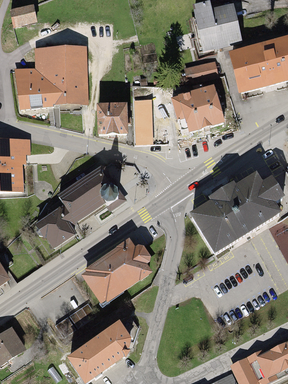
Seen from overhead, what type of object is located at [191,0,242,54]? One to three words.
house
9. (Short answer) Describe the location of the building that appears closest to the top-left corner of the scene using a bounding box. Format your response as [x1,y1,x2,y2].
[10,4,38,30]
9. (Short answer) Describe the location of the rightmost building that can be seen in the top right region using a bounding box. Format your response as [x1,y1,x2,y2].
[229,36,288,95]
